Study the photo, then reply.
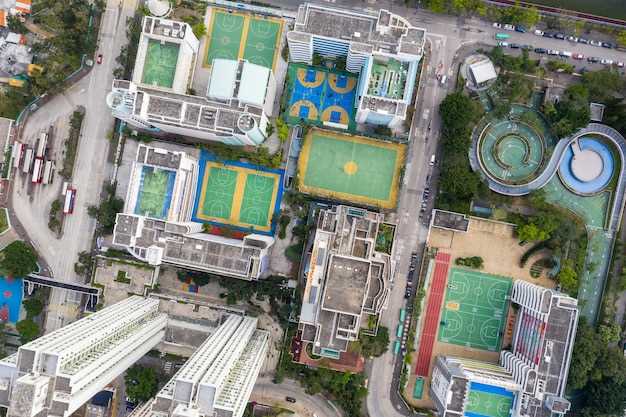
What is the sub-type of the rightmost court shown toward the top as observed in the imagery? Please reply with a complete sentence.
In the photo, the rightmost court shown toward the top shows up as a basketball court.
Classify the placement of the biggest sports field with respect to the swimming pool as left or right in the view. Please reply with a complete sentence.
From the viewer's perspective, the biggest sports field falls to the left of the swimming pool.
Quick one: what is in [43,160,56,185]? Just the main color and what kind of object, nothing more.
white vehicle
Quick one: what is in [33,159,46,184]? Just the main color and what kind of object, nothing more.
white vehicle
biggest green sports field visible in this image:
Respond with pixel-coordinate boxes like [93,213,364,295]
[300,128,408,208]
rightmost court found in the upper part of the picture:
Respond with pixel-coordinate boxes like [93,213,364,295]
[279,62,361,131]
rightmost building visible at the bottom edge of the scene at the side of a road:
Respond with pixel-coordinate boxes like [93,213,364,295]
[427,279,580,417]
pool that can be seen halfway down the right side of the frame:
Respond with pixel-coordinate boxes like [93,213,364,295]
[558,136,613,193]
